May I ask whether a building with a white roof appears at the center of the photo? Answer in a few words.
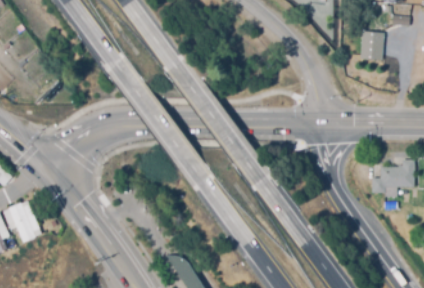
No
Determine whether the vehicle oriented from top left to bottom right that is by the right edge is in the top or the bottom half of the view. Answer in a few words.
bottom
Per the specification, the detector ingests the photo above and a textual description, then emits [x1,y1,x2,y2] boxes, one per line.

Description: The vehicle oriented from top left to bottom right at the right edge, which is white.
[390,266,410,288]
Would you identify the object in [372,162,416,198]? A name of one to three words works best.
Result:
house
